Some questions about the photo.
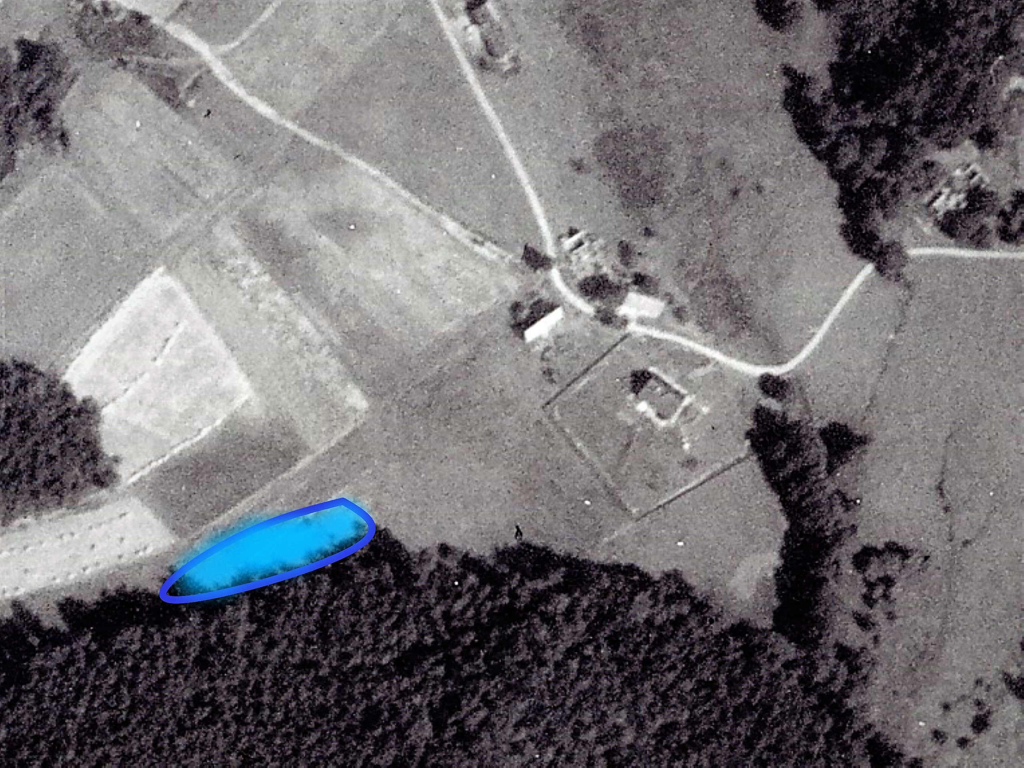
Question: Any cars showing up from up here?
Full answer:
No, no car is visible in the view.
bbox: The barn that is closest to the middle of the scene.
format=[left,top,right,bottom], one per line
[522,303,565,341]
